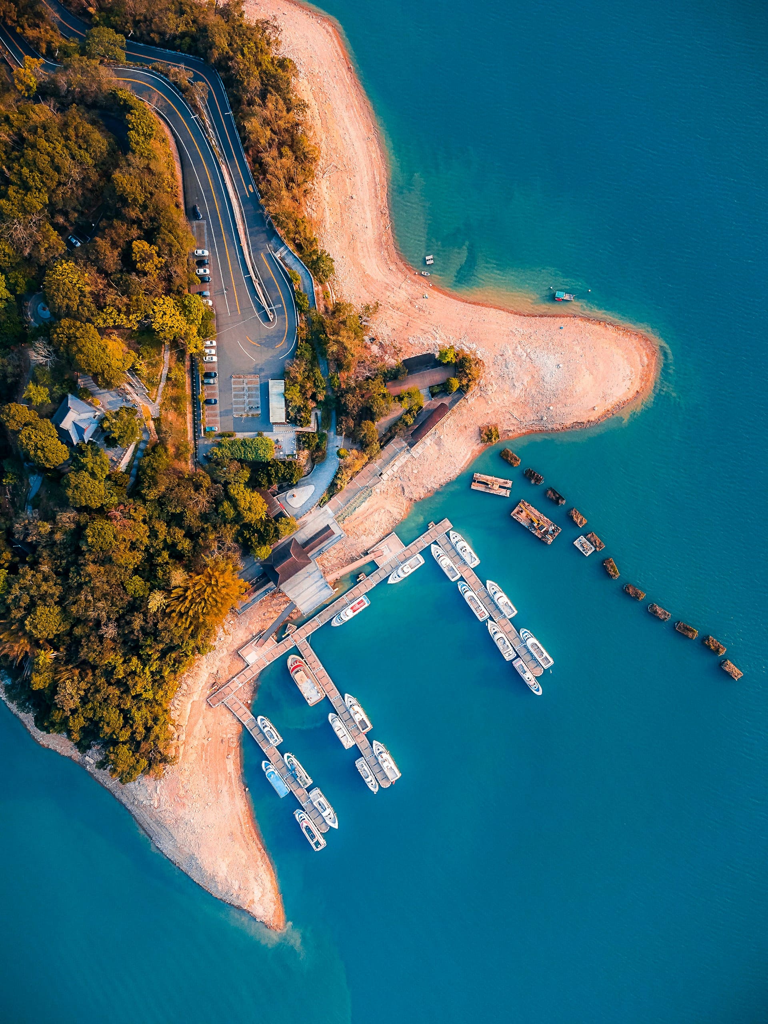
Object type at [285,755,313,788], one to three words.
boat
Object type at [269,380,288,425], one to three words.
shed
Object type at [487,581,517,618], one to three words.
boat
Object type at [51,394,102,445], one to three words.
house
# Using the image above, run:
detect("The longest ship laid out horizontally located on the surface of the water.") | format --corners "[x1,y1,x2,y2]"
[471,473,512,497]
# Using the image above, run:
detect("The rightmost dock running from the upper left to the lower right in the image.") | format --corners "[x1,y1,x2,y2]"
[437,534,541,675]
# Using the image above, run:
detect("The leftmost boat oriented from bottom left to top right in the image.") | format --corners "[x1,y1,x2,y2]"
[332,596,370,626]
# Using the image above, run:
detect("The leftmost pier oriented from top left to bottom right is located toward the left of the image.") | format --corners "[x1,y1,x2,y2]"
[225,696,328,830]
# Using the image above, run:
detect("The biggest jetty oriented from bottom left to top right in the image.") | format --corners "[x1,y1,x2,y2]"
[207,518,453,707]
